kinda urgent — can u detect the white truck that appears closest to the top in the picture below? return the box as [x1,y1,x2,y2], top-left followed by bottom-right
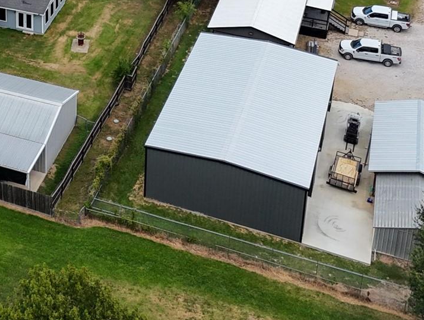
[349,2,412,32]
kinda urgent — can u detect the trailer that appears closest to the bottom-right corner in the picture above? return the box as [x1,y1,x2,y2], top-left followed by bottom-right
[327,139,362,195]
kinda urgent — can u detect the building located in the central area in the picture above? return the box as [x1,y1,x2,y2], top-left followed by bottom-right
[141,30,331,241]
